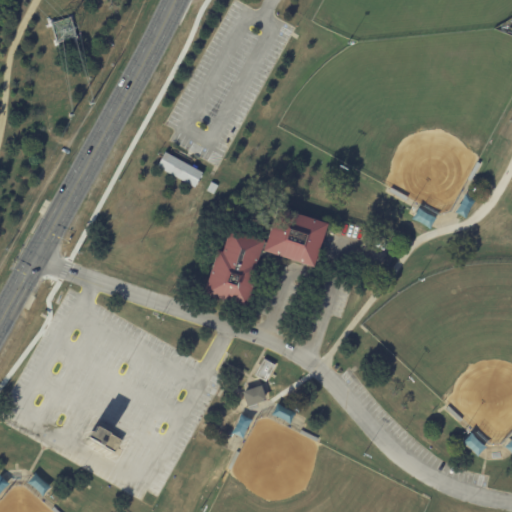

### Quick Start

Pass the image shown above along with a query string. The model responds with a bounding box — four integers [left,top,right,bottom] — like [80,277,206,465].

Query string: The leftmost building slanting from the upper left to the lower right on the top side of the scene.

[160,153,202,188]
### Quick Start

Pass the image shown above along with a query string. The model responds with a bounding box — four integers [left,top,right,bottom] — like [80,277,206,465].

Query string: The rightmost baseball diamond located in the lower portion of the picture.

[364,263,512,442]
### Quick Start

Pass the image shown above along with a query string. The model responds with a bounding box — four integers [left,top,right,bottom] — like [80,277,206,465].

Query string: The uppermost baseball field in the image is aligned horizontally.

[314,0,512,41]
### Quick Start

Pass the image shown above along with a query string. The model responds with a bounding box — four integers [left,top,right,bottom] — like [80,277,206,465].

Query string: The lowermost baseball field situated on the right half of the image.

[208,418,430,512]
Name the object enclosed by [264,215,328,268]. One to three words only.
building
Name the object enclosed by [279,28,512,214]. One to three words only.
baseball field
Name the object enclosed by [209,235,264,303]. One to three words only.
building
